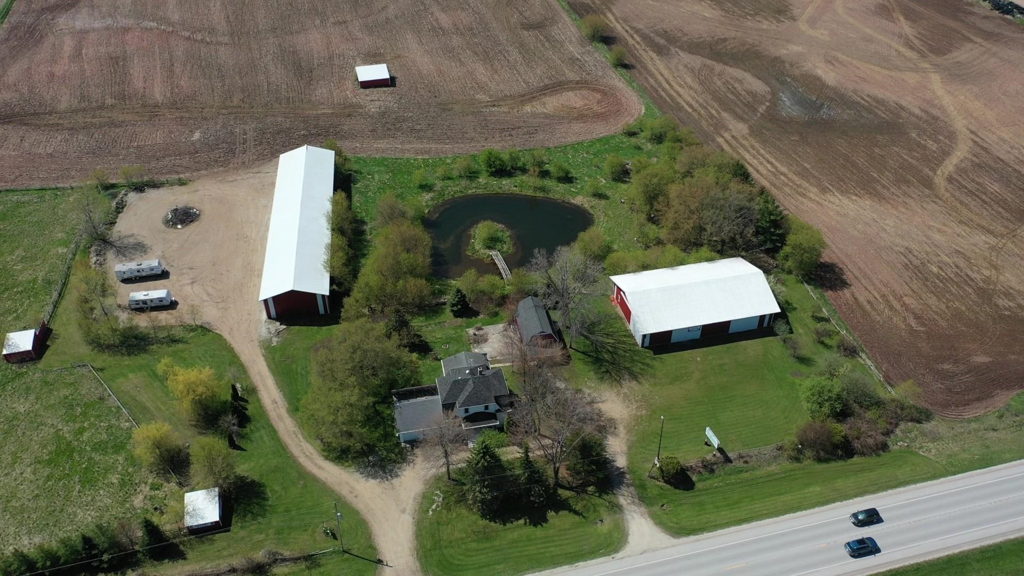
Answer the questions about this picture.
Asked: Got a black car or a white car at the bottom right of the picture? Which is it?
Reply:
black car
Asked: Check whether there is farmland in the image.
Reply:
Yes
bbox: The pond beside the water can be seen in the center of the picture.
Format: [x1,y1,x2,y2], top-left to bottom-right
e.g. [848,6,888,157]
[422,193,593,281]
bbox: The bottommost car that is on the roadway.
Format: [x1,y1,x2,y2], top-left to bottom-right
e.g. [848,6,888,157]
[846,536,880,557]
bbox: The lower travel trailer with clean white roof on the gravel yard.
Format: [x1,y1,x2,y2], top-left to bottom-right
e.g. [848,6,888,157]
[127,285,177,307]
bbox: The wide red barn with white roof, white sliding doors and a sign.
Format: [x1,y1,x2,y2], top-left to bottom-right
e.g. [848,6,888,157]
[610,258,781,349]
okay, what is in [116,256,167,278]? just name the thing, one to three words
trailer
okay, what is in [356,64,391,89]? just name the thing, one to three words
shed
